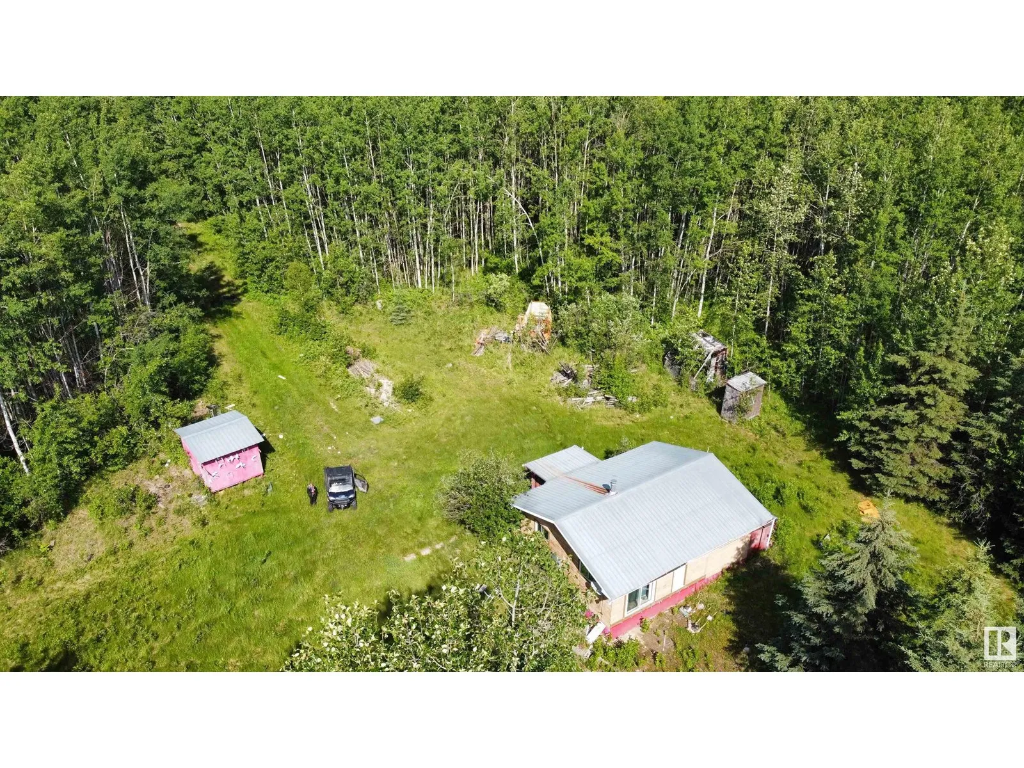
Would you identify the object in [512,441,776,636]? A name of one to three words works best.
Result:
house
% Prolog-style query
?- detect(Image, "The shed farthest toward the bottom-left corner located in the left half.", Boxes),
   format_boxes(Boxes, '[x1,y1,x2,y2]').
[174,411,264,493]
